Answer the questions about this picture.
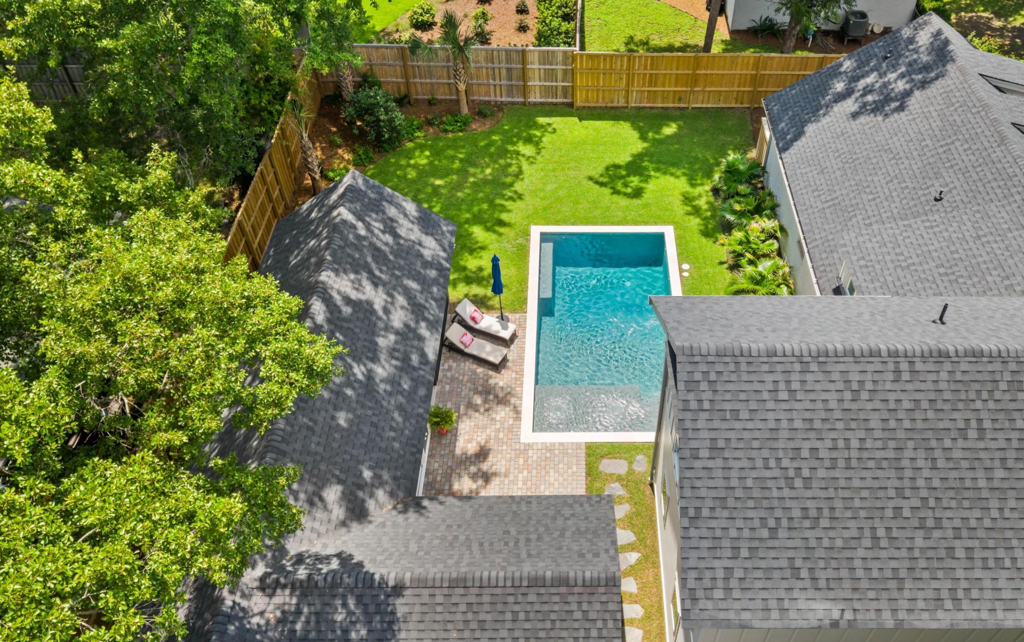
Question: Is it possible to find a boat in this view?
No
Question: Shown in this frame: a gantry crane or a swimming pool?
swimming pool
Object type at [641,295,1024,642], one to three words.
house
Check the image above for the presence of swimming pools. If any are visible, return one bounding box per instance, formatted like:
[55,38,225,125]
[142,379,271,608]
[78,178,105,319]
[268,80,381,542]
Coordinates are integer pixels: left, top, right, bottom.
[521,224,684,442]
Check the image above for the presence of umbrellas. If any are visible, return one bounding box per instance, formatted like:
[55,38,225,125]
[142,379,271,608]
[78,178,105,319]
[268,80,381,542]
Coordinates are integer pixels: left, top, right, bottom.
[490,253,515,323]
